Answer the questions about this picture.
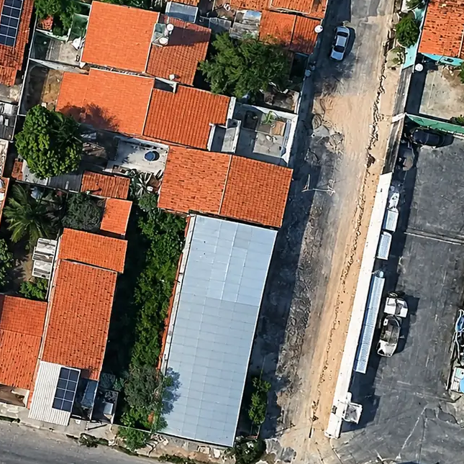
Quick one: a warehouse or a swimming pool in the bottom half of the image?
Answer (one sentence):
There is a warehouse in the bottom half of the image.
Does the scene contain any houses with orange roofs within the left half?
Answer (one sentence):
Yes, I can see a house with an orange roof within the left half.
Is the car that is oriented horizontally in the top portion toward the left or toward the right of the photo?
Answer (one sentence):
The car that is oriented horizontally in the top portion is on the right side of the image.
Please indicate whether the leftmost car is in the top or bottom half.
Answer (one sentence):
The leftmost car sits in the top half of the picture.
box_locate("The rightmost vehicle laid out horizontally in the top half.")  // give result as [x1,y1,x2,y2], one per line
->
[403,126,449,148]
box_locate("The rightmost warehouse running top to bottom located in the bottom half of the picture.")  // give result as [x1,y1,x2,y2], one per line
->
[148,216,278,447]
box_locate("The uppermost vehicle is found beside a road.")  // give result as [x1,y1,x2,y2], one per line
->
[327,25,351,62]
